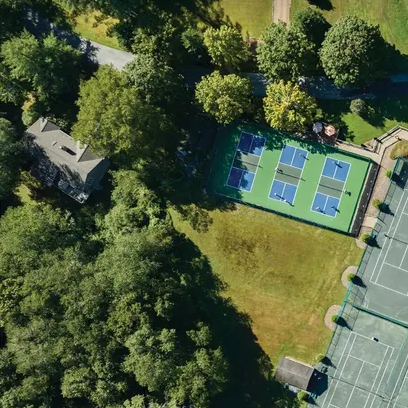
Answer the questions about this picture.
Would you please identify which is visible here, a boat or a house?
house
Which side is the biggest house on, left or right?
left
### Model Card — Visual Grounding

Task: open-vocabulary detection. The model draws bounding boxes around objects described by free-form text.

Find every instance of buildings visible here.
[17,117,109,190]
[275,357,316,390]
